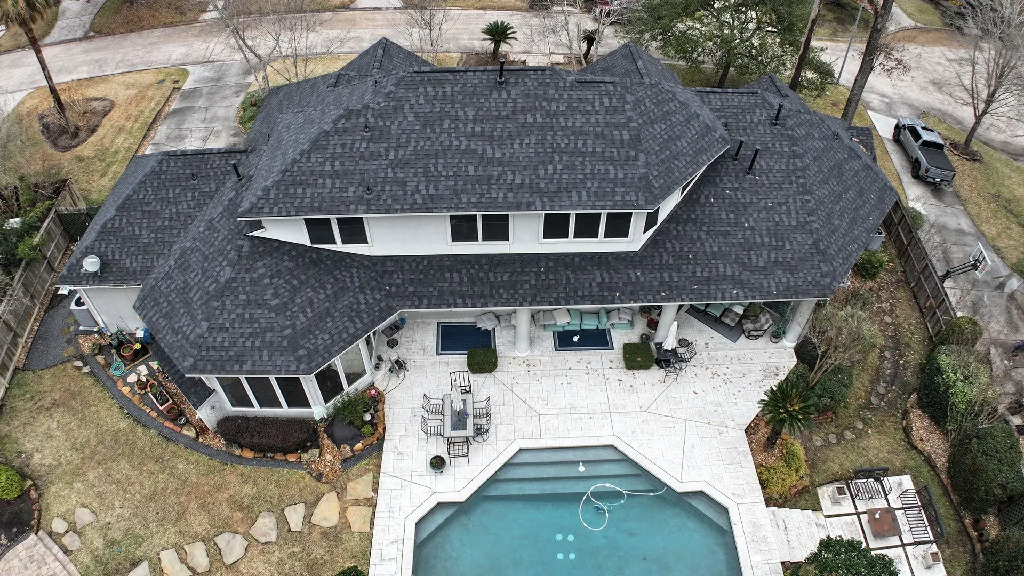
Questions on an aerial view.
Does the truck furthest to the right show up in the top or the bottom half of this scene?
top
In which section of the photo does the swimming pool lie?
bottom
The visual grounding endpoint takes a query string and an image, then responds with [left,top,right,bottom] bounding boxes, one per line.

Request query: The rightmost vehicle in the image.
[897,116,969,186]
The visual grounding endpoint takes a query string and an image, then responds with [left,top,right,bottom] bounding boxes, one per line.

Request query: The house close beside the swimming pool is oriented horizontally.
[55,36,900,430]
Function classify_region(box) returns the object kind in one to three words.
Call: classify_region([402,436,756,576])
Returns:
swimming pool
